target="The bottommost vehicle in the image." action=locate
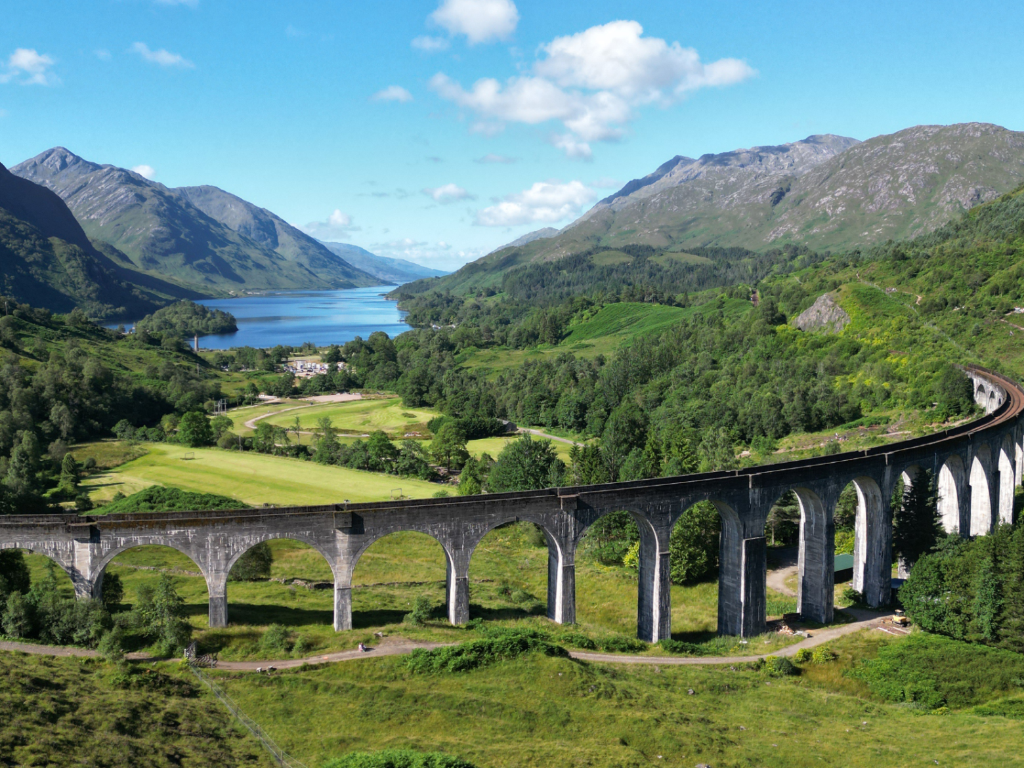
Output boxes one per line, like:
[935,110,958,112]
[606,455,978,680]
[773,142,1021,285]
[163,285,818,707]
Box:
[891,613,914,631]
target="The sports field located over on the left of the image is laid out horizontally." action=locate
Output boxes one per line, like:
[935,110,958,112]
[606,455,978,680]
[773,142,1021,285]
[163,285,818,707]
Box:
[89,442,459,504]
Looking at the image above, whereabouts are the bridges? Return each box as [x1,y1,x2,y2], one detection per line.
[0,360,1024,643]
